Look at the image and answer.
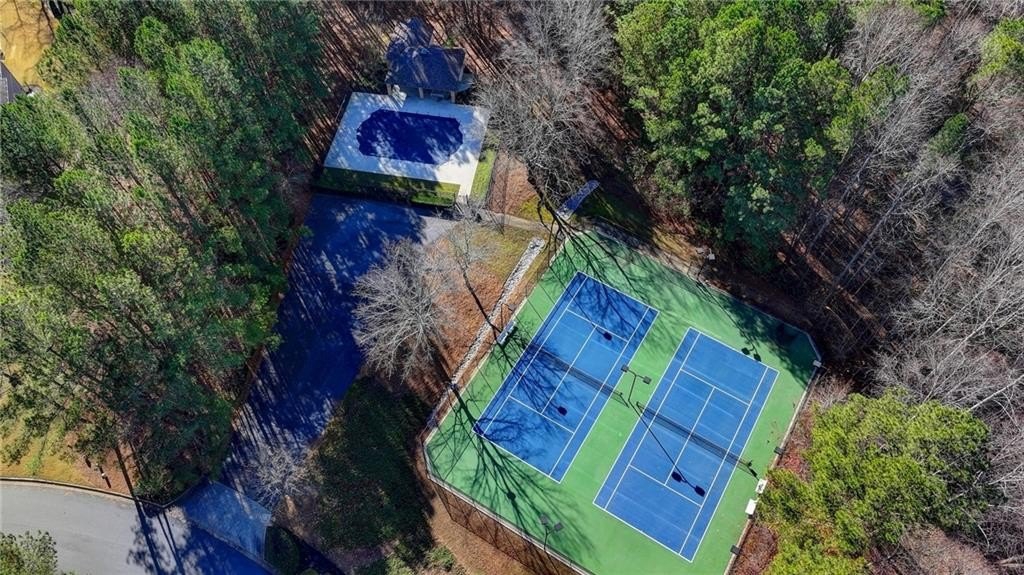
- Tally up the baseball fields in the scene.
0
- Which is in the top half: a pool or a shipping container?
pool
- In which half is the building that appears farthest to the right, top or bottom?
top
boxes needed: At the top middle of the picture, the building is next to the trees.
[384,18,465,102]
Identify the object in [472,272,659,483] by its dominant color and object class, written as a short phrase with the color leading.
blue tennis court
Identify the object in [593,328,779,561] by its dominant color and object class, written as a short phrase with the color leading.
blue tennis court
